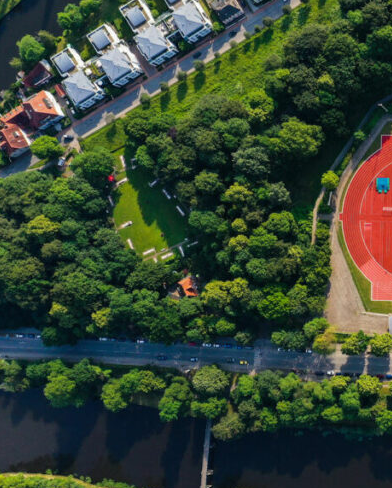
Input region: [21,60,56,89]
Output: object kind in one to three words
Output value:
house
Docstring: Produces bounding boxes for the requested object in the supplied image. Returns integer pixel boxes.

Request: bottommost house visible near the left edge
[0,123,36,154]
